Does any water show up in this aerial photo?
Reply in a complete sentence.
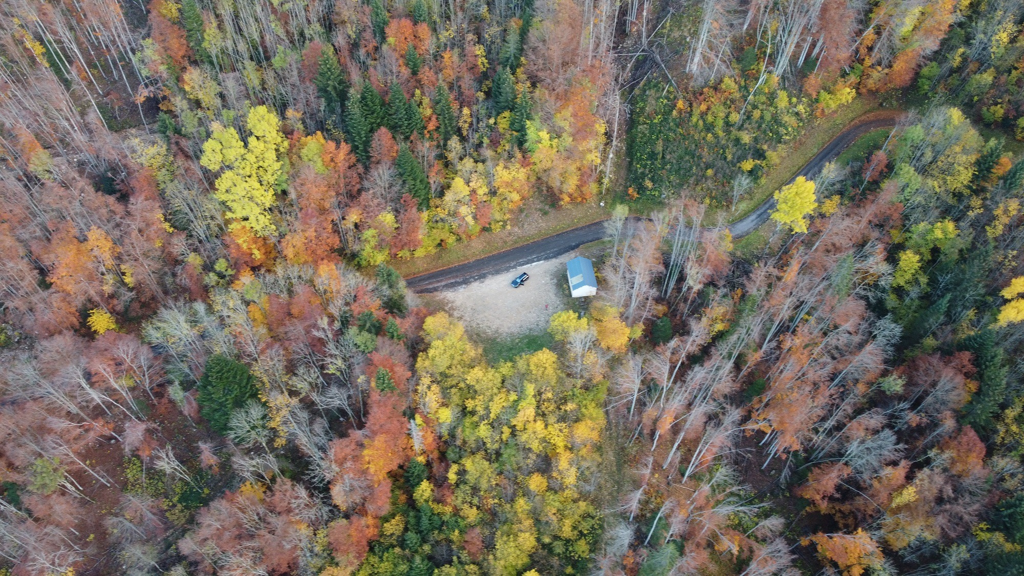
No, no water is visible.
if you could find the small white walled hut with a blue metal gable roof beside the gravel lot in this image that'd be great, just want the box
[566,256,597,297]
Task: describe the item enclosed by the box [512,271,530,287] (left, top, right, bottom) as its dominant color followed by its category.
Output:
blue car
